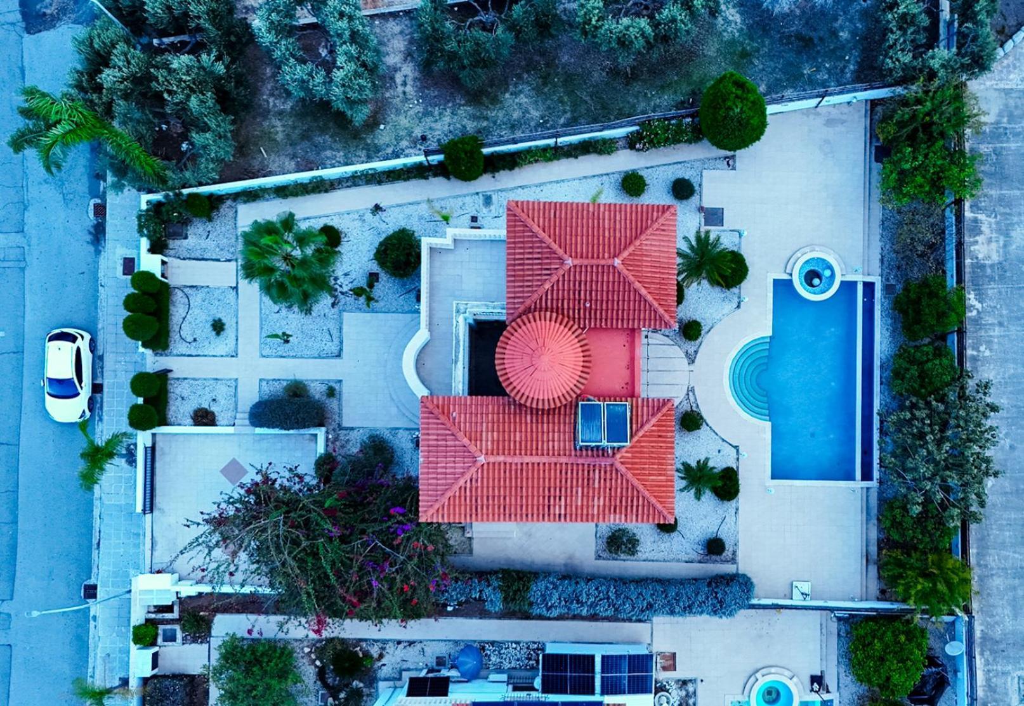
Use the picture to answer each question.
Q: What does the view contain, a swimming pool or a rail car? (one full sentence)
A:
The one in the frame is a swimming pool.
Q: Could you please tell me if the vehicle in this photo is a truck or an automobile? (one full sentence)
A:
I'd say the vehicle is an automobile.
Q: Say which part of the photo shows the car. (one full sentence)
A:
Look in the left portion of the view to spot the car.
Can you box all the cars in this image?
[42,329,95,424]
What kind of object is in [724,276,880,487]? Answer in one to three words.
swimming pool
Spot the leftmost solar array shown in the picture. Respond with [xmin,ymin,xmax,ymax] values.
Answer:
[407,675,449,698]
